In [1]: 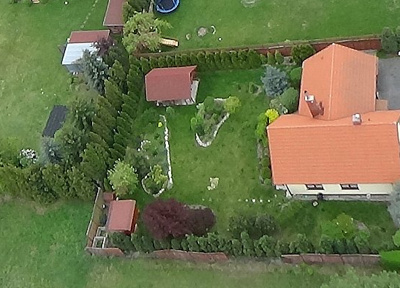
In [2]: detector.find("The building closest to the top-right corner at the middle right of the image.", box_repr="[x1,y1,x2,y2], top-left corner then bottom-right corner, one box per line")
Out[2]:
[272,40,400,201]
